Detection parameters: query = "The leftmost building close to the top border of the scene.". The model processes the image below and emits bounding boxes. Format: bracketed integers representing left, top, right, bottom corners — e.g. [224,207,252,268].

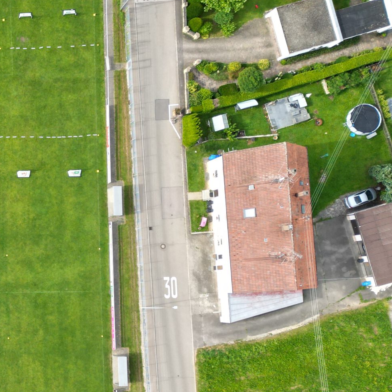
[267,0,350,59]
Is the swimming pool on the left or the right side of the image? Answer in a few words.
right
